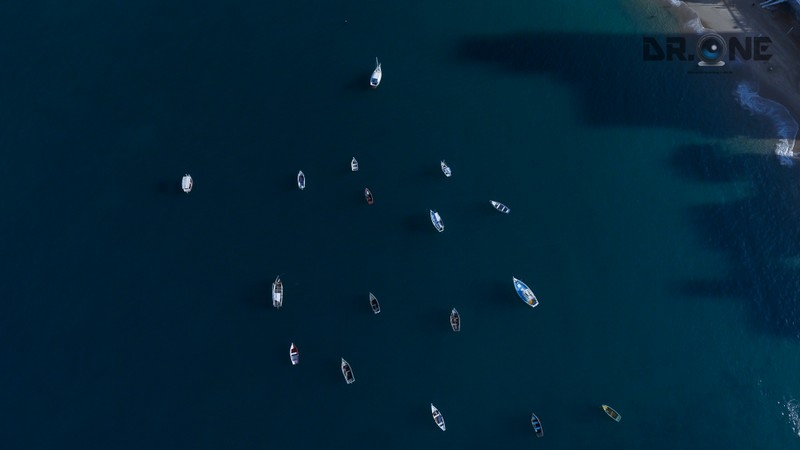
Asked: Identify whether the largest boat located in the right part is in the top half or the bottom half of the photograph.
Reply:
bottom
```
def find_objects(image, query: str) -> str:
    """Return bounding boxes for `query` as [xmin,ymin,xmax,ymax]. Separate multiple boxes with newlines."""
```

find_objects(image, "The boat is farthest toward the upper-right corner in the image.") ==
[489,199,510,213]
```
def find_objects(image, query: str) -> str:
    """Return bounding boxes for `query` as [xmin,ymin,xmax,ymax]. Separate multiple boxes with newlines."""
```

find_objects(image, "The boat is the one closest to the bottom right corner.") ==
[602,405,622,422]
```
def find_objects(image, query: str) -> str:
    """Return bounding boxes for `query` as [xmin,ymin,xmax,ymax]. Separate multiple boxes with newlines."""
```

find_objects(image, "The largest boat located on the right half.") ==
[513,277,539,308]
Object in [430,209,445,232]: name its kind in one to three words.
boat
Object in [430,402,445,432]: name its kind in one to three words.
boat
